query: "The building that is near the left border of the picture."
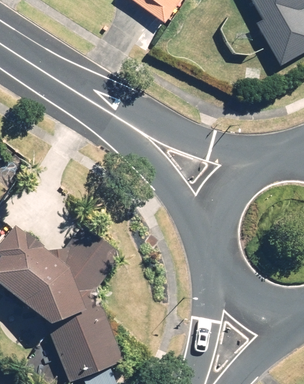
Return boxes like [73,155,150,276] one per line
[0,226,122,382]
